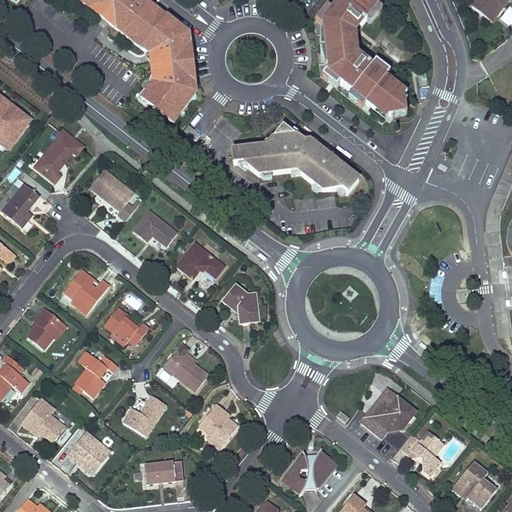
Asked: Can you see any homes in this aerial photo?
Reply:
Yes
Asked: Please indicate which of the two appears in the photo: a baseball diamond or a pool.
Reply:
pool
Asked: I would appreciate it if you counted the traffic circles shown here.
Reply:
2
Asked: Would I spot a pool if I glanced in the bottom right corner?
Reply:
Yes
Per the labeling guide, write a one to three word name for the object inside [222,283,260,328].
house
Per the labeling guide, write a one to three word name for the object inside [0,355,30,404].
house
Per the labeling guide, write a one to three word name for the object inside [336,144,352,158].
vehicle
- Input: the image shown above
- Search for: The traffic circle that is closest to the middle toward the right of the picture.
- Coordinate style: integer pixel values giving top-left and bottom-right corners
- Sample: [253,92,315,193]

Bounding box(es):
[286,247,399,360]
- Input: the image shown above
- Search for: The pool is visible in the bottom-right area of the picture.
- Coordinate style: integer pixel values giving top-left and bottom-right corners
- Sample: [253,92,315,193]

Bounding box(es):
[438,437,465,468]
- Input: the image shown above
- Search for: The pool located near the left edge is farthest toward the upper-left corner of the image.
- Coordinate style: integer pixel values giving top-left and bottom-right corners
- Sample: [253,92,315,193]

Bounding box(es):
[4,165,24,185]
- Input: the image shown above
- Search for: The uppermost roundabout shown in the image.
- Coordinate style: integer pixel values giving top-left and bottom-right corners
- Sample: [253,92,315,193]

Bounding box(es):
[210,18,292,100]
